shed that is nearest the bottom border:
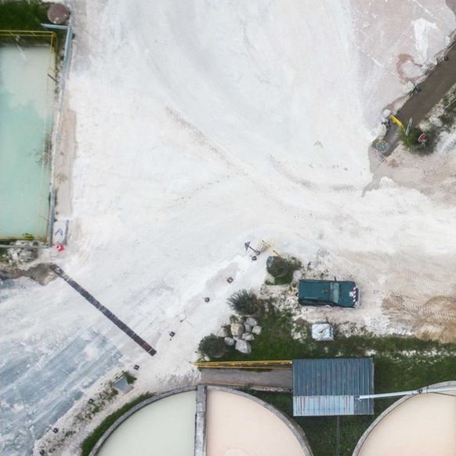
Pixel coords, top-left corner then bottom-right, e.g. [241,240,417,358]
[291,358,380,416]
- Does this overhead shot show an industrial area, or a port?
industrial area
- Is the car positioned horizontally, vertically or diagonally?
horizontally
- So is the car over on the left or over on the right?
right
